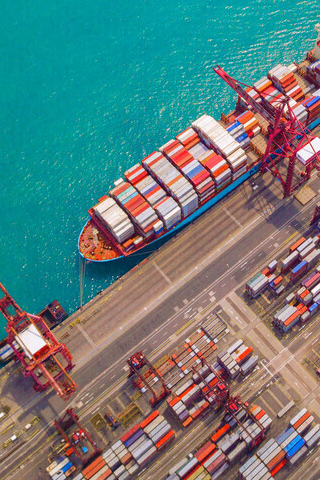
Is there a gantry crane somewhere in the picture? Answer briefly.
Yes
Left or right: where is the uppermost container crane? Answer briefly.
right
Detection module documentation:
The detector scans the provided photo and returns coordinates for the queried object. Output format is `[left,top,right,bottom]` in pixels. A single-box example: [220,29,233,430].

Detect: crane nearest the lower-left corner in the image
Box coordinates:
[52,408,104,468]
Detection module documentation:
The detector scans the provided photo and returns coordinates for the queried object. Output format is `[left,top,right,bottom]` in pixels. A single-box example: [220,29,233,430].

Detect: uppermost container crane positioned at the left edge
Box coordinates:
[0,279,79,397]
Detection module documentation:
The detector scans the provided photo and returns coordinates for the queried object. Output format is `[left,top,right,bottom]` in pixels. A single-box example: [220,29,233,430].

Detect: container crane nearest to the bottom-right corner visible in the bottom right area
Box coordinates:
[222,390,270,449]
